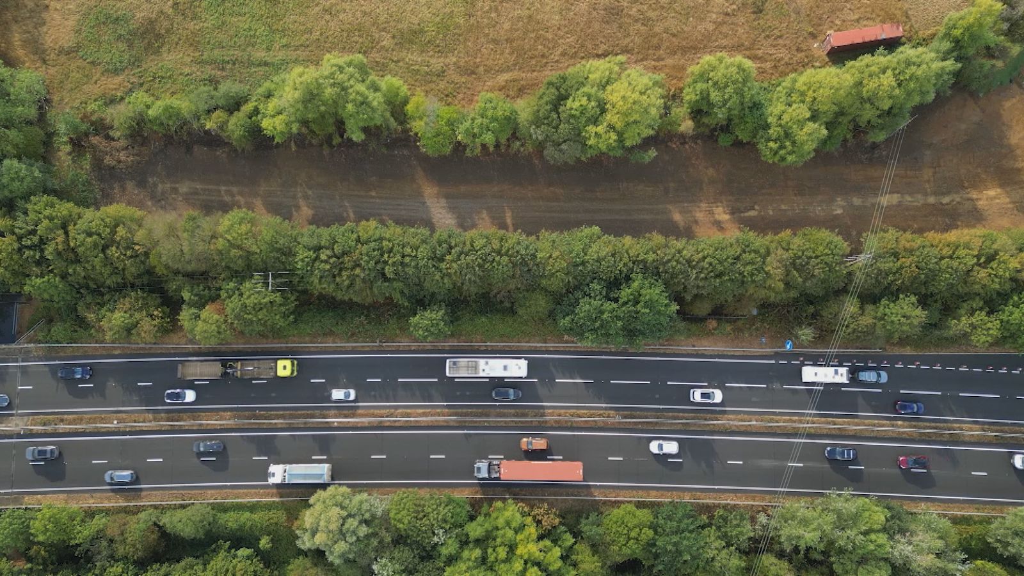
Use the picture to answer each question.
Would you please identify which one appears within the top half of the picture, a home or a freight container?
freight container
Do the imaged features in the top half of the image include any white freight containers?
No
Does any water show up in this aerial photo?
No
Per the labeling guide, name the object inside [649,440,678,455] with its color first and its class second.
white car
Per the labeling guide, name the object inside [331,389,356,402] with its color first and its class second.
white vehicle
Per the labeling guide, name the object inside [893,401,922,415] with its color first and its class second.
blue car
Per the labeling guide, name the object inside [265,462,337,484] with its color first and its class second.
white truck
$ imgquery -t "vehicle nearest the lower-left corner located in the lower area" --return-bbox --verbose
[27,446,62,461]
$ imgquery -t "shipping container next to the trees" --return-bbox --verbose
[824,24,907,54]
